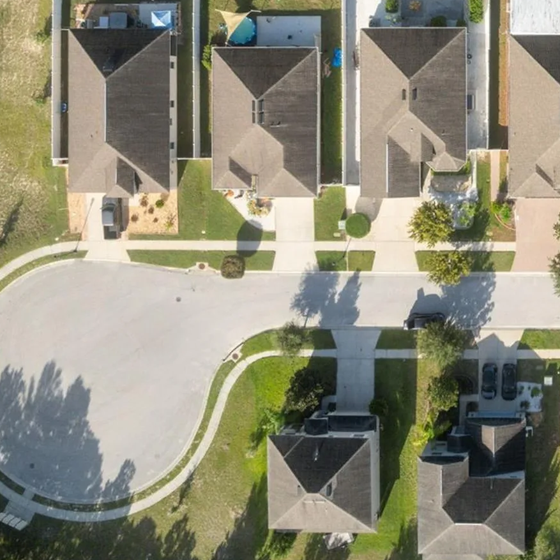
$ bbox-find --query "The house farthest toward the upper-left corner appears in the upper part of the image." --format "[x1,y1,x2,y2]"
[67,29,181,200]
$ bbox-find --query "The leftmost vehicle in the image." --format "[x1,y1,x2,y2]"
[96,199,117,242]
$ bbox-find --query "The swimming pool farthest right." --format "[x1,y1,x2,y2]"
[230,17,260,47]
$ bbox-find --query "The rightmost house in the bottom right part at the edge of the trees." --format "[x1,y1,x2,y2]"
[418,413,526,560]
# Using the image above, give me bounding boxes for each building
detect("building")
[360,28,467,199]
[267,409,381,534]
[67,29,181,200]
[212,48,323,197]
[418,413,526,560]
[509,0,560,199]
